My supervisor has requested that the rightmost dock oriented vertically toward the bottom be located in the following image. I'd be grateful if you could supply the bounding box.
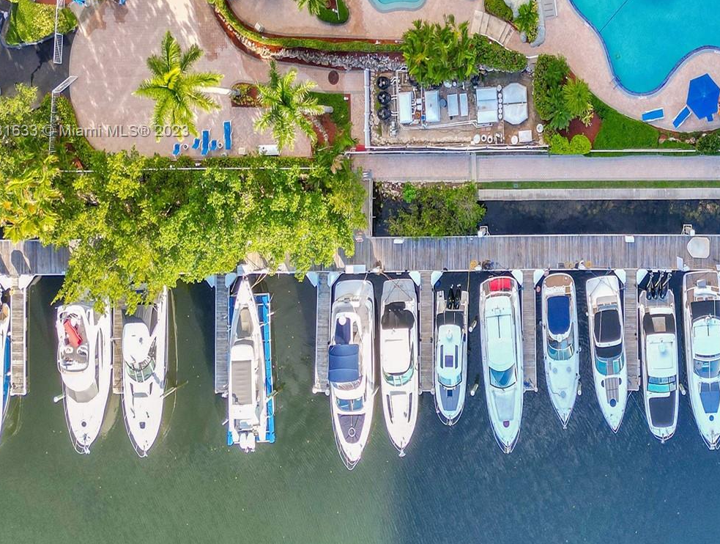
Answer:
[623,276,640,393]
